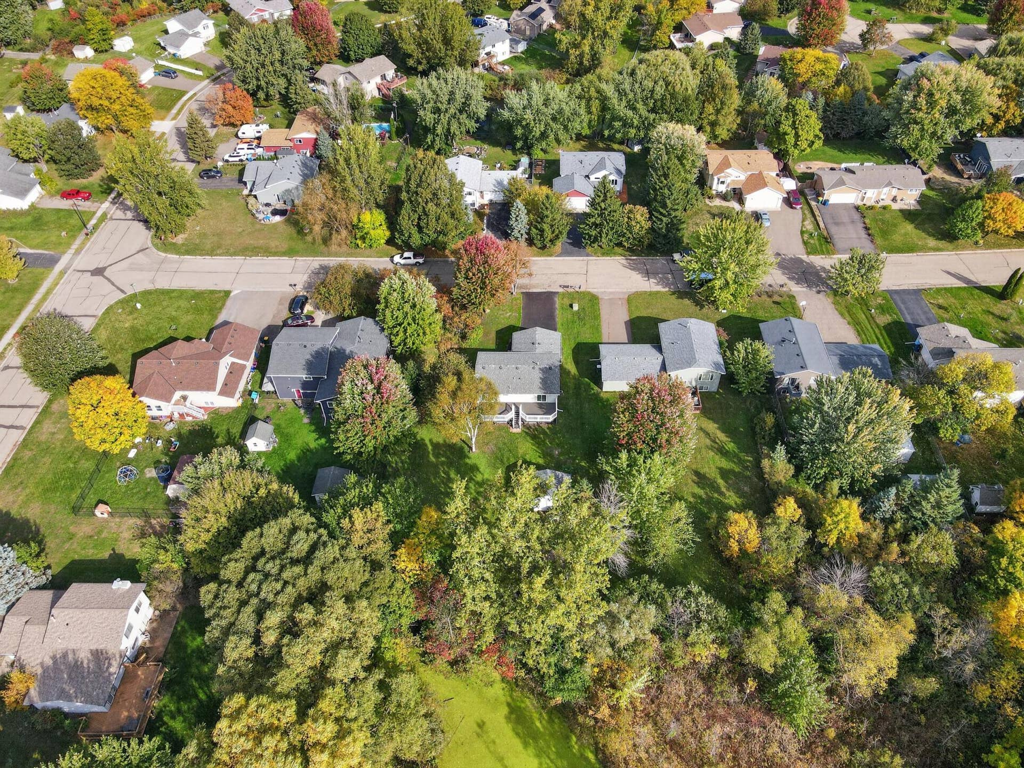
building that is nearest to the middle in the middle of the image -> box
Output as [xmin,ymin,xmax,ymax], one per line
[476,323,562,432]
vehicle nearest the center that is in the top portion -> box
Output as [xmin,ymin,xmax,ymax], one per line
[392,250,425,264]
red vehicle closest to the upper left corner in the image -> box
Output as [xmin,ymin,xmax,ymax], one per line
[58,187,90,200]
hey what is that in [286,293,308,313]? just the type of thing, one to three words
car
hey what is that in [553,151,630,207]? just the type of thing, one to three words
house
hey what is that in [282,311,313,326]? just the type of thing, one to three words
car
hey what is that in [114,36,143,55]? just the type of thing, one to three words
shed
